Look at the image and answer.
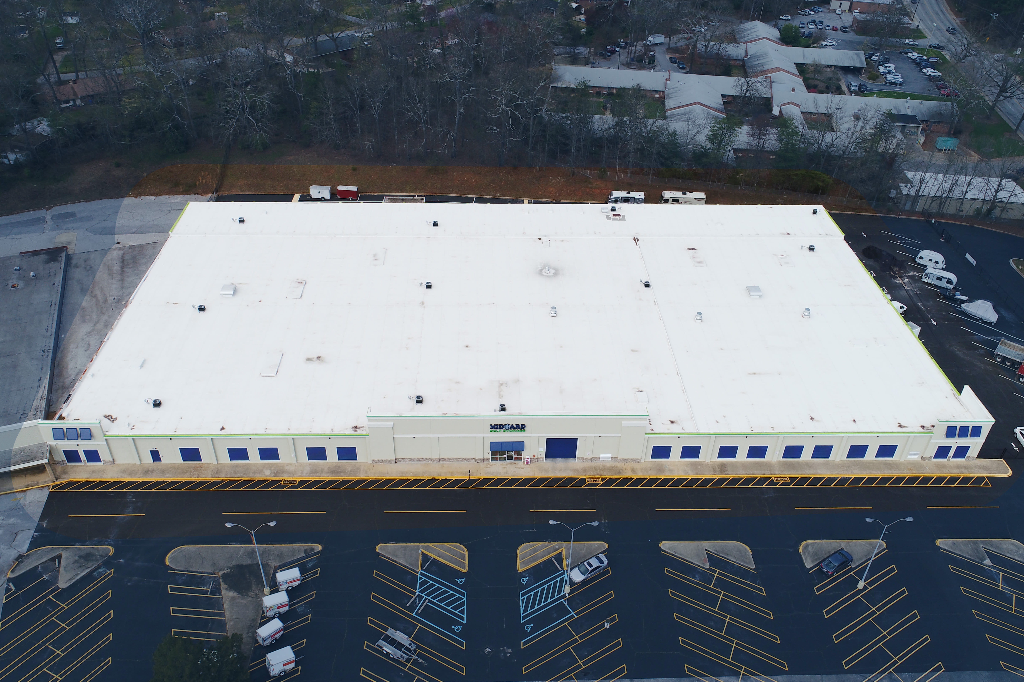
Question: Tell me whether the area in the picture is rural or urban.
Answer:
urban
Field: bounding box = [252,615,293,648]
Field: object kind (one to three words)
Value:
trailer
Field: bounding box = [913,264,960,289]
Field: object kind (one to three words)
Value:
vehicle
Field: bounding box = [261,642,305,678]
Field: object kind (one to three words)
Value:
trailer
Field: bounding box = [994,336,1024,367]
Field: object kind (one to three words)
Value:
truck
